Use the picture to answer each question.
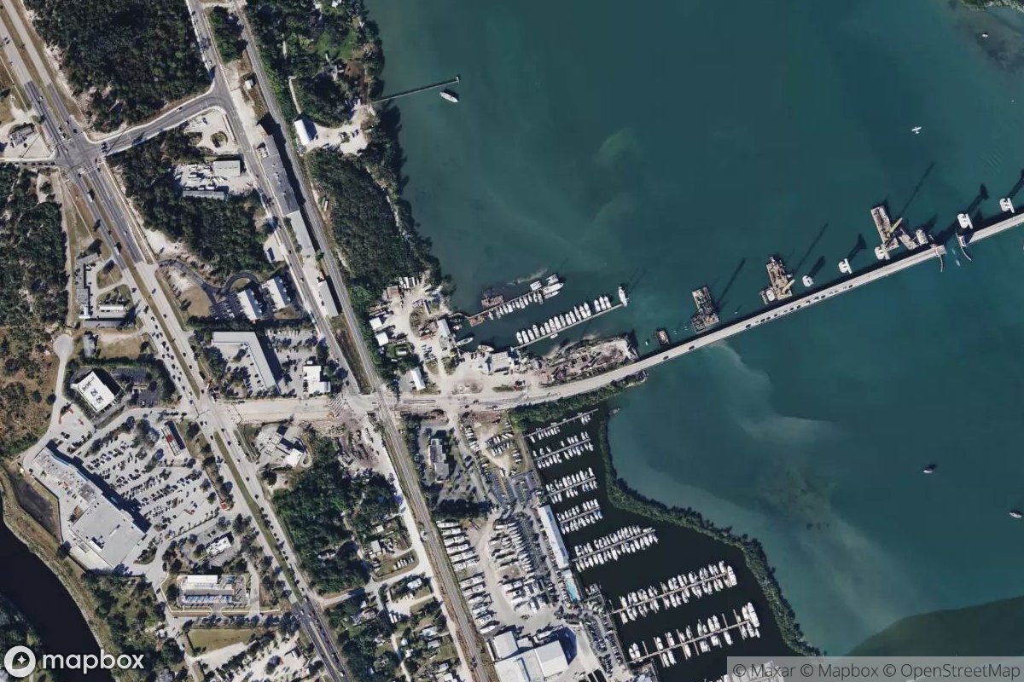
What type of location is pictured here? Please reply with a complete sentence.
This image shows a port.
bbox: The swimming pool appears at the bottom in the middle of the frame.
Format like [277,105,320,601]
[565,578,580,603]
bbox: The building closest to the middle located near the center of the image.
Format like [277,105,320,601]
[491,351,511,372]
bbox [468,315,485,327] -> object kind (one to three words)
ship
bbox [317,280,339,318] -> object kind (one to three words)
building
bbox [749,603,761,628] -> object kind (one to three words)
boat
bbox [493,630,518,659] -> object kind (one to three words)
hangar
